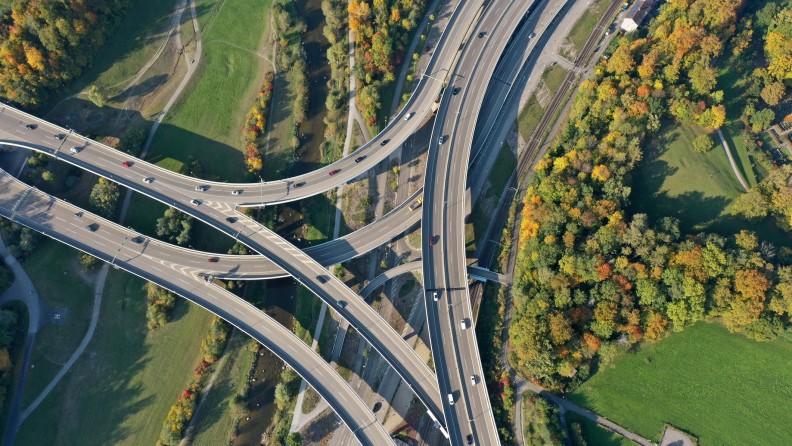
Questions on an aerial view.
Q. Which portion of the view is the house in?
top right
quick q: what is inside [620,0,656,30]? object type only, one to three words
house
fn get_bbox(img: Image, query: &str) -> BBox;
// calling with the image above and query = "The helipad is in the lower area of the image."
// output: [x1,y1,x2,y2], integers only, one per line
[51,307,67,325]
